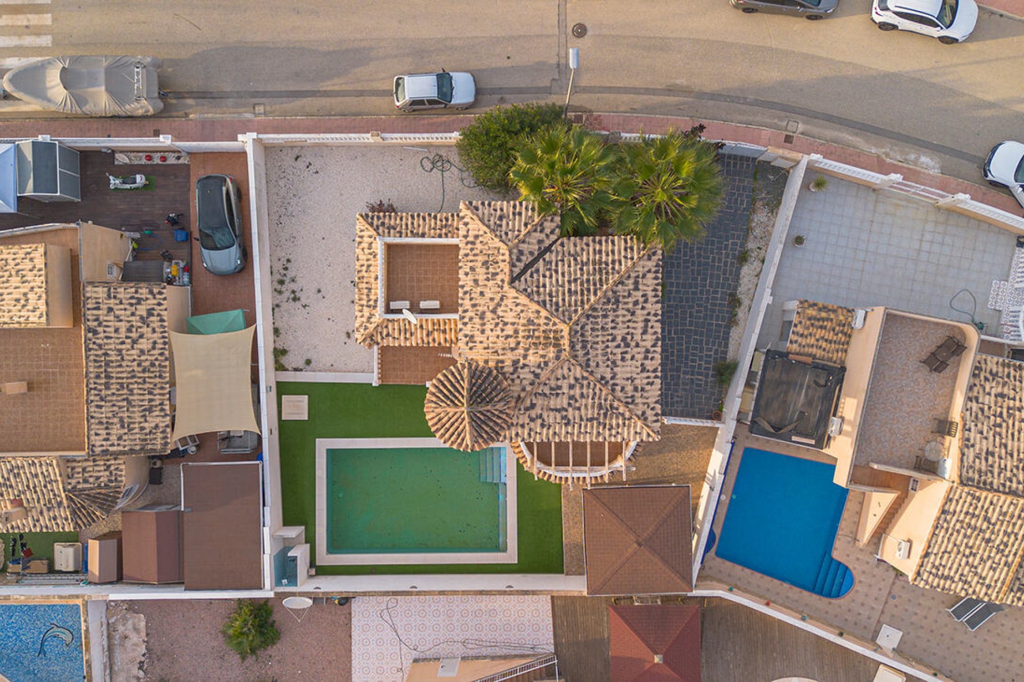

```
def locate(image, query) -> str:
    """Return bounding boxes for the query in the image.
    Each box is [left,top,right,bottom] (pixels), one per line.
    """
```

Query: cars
[195,175,248,275]
[876,0,983,45]
[985,142,1024,199]
[394,67,477,113]
[729,0,839,20]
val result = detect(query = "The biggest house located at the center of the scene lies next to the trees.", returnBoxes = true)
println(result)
[353,199,664,487]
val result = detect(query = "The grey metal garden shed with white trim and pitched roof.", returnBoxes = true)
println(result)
[16,140,80,202]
